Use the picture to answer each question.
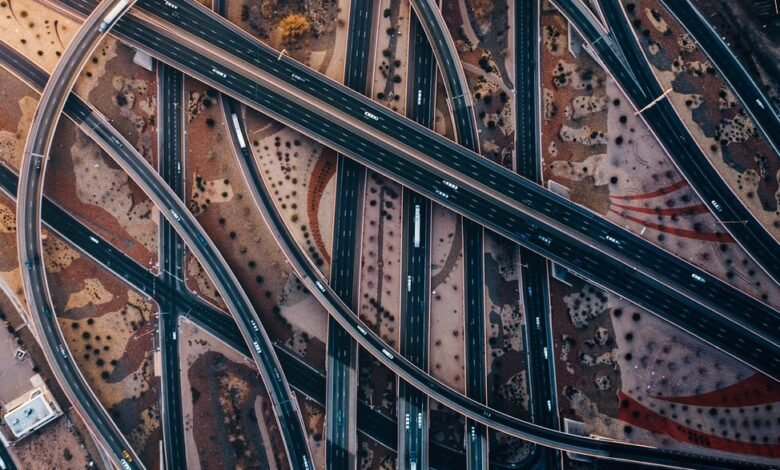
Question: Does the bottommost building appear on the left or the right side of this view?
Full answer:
You can find the bottommost building on the left side of the picture.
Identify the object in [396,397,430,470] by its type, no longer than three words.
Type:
bridge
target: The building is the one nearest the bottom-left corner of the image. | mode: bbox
[0,372,64,443]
